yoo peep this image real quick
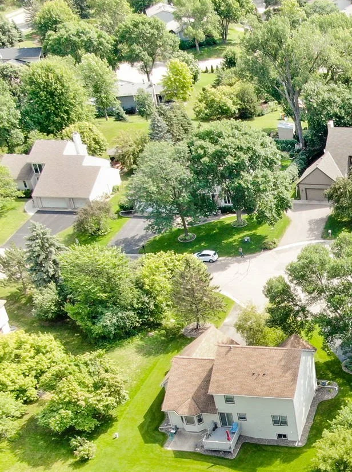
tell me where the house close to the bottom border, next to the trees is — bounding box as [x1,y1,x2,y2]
[161,325,335,456]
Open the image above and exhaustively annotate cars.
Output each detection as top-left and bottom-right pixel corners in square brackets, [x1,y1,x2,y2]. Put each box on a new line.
[192,249,219,263]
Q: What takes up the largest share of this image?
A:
trees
